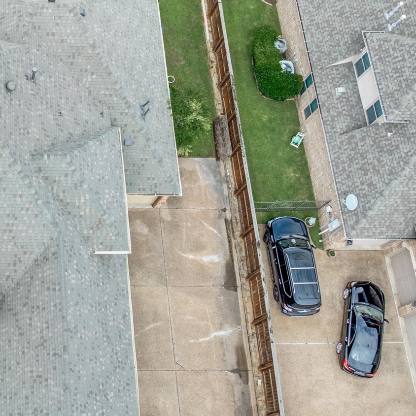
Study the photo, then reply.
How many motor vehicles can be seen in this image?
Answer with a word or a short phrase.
two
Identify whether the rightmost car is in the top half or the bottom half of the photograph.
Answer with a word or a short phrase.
bottom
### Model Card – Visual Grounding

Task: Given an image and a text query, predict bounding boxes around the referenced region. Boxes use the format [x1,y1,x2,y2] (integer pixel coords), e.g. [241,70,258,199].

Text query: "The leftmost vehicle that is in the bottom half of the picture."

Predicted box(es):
[263,215,327,317]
